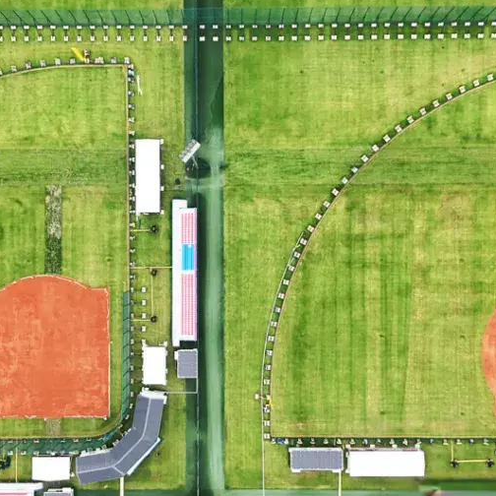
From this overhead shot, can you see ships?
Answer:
No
